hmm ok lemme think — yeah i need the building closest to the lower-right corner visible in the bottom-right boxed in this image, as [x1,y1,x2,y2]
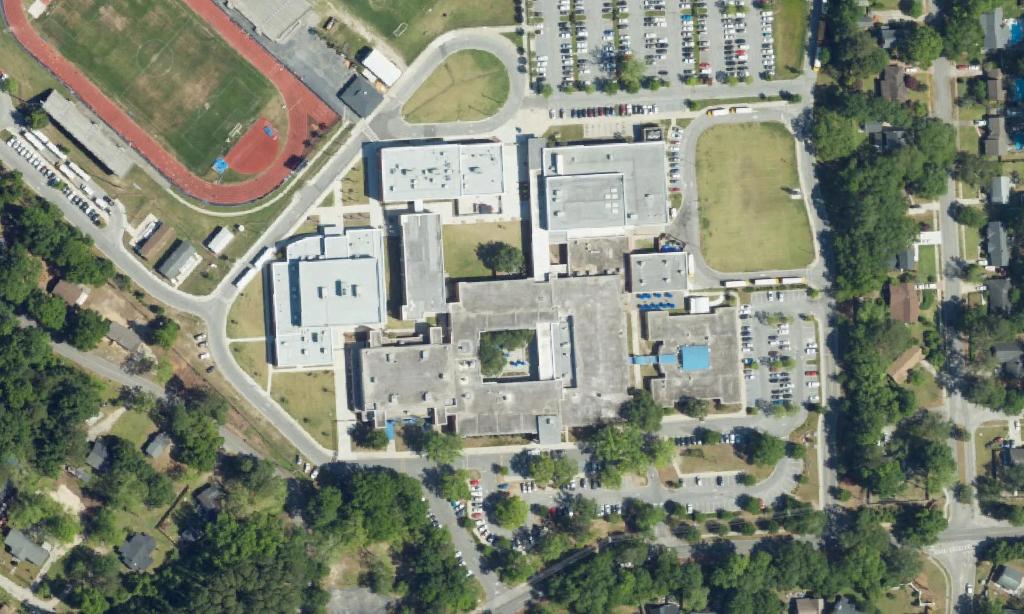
[997,567,1023,590]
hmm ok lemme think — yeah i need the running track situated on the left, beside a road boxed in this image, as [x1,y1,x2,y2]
[1,0,308,203]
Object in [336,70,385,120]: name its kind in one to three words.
building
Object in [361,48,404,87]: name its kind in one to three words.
building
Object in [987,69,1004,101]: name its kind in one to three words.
house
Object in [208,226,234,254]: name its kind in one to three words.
shed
